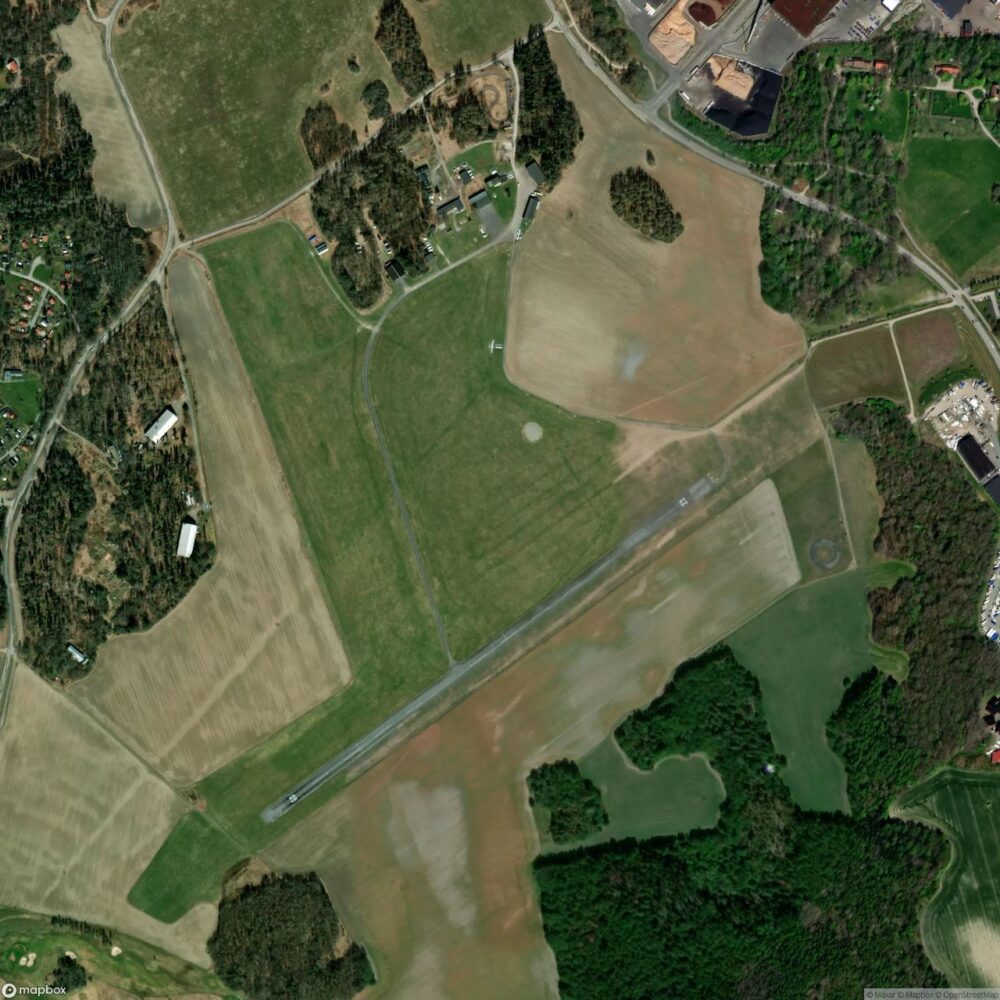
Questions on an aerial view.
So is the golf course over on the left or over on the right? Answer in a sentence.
The golf course sits on the left side.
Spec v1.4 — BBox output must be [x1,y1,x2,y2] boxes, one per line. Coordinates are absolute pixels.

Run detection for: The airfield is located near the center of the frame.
[192,204,855,860]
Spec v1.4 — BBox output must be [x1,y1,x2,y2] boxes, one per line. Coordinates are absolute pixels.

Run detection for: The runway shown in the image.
[264,472,722,820]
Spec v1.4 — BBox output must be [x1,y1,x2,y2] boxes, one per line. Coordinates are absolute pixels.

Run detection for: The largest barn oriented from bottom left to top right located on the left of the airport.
[145,409,178,443]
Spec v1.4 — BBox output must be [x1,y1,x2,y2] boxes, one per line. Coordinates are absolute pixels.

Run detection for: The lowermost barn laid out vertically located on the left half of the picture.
[177,522,196,558]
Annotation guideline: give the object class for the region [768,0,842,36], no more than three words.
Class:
building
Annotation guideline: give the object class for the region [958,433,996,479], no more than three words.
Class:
building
